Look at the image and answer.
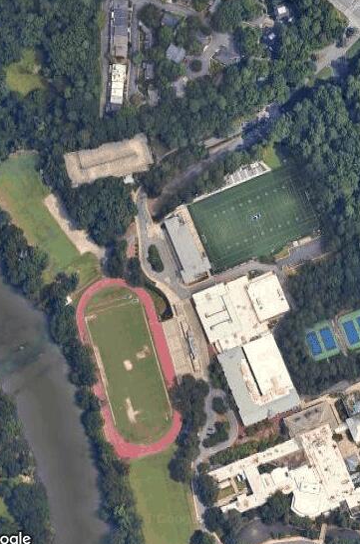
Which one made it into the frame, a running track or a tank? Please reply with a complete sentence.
I can see a running track in this picture.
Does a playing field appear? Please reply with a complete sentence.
Yes, looking at the shot, I can spot a playing field.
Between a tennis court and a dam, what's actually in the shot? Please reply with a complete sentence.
The image shows a tennis court.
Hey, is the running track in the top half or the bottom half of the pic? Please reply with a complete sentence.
You can find the running track in the bottom half.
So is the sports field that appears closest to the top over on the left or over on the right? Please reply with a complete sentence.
It is on the right.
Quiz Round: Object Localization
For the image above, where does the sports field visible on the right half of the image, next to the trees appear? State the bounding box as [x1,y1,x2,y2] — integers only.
[186,160,324,271]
